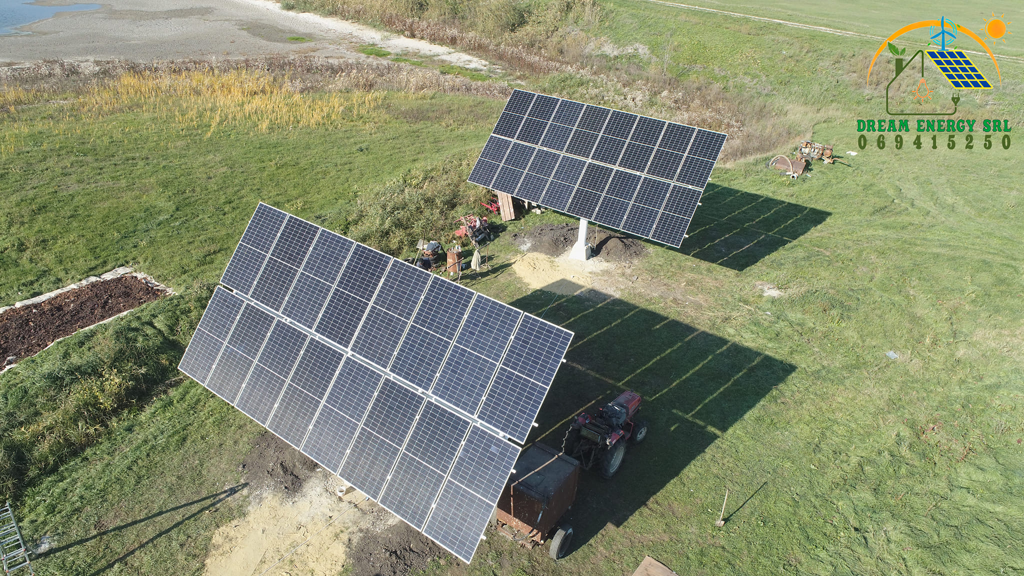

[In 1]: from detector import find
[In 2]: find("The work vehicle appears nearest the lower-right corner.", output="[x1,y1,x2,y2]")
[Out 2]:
[563,392,650,479]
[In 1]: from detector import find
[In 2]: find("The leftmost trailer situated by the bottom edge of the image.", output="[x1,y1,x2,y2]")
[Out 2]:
[493,435,581,554]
